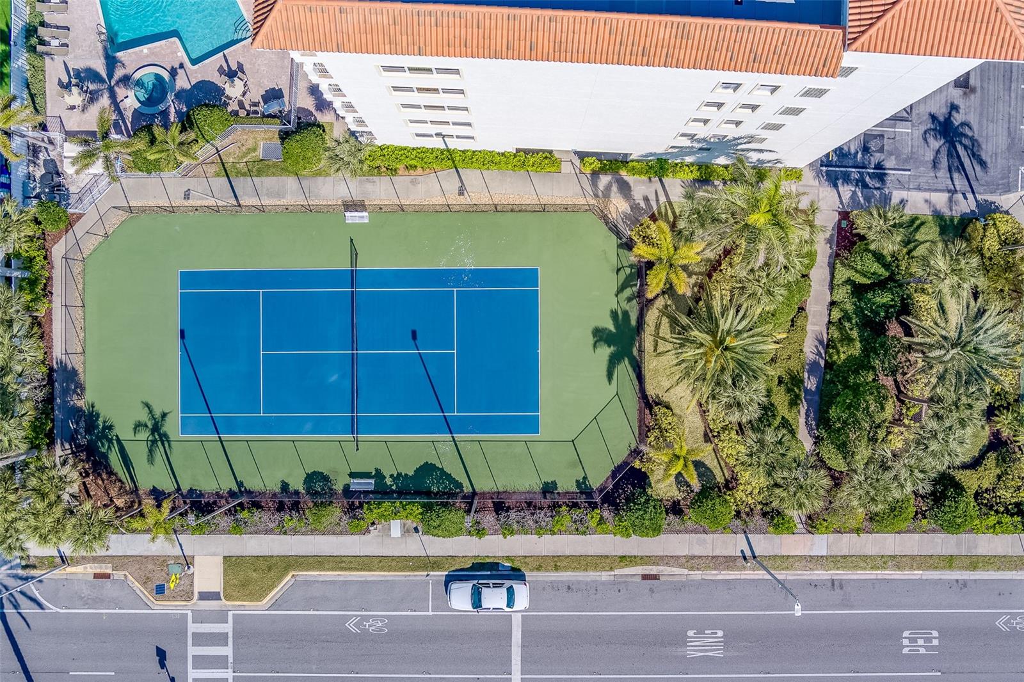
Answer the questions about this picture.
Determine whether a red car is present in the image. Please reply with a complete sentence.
No, no red car is visible in the scene.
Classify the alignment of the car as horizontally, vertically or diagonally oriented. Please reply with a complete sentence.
What the image shows is the car lying horizontally.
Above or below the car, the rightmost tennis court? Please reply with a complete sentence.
As seen from overhead, the rightmost tennis court falls above the car in the picture.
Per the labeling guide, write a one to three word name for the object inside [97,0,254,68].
swimming pool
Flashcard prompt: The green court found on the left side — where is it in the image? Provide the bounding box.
[85,212,637,491]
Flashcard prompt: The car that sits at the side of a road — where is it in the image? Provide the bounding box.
[447,577,530,614]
